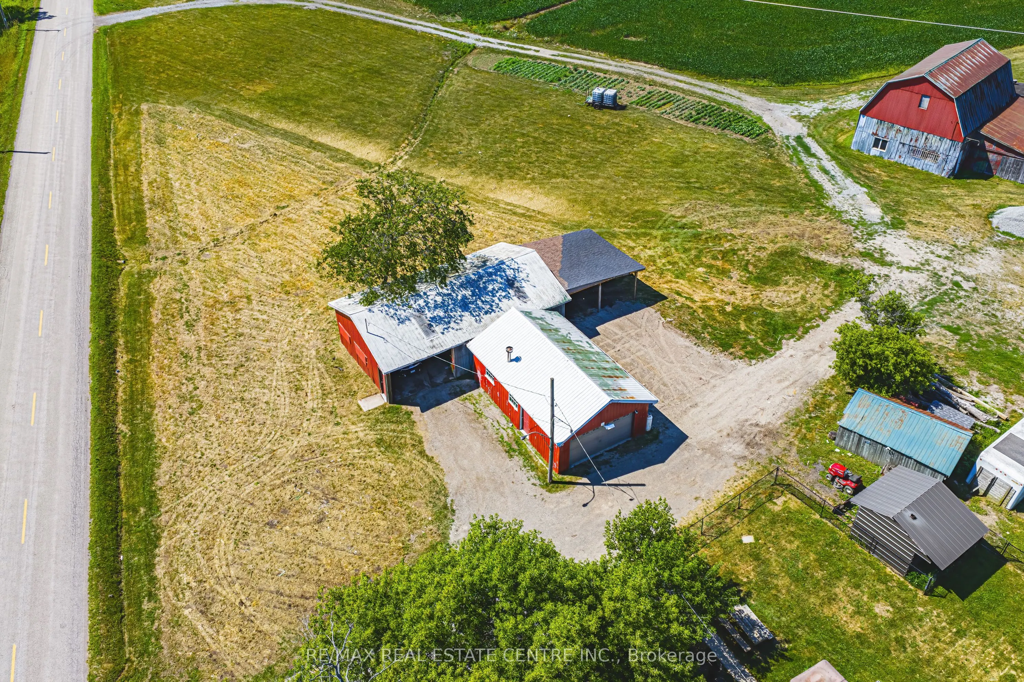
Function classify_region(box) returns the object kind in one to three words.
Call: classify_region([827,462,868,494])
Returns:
work vehicle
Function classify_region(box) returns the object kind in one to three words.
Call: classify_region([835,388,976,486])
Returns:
shed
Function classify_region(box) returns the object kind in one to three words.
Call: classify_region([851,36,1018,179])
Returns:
barn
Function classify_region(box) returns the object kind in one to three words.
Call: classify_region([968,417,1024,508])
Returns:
trailer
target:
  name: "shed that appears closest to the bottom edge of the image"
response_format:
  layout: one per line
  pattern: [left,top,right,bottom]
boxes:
[851,465,989,593]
